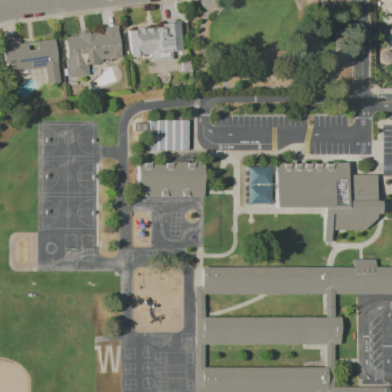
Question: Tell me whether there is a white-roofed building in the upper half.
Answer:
Yes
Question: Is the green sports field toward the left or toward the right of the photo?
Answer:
left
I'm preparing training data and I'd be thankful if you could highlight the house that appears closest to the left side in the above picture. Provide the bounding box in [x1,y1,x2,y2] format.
[5,39,60,84]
